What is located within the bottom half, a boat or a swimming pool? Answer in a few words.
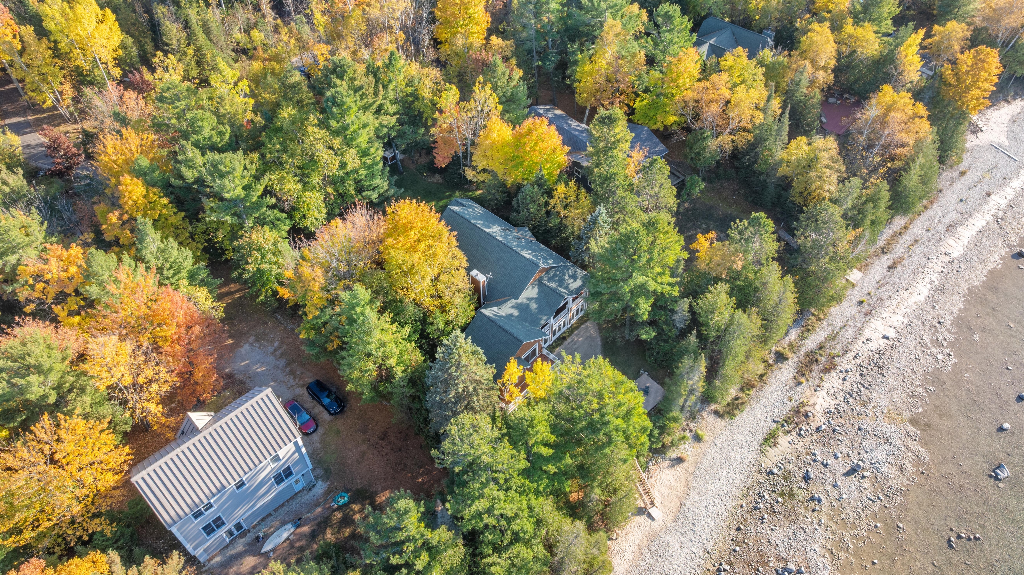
boat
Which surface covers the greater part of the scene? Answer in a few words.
trees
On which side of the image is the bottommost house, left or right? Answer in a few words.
left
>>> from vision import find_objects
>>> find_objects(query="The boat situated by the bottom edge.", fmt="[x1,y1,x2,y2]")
[261,514,304,555]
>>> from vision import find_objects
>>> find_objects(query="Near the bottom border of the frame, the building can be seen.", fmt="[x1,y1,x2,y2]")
[129,385,313,562]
